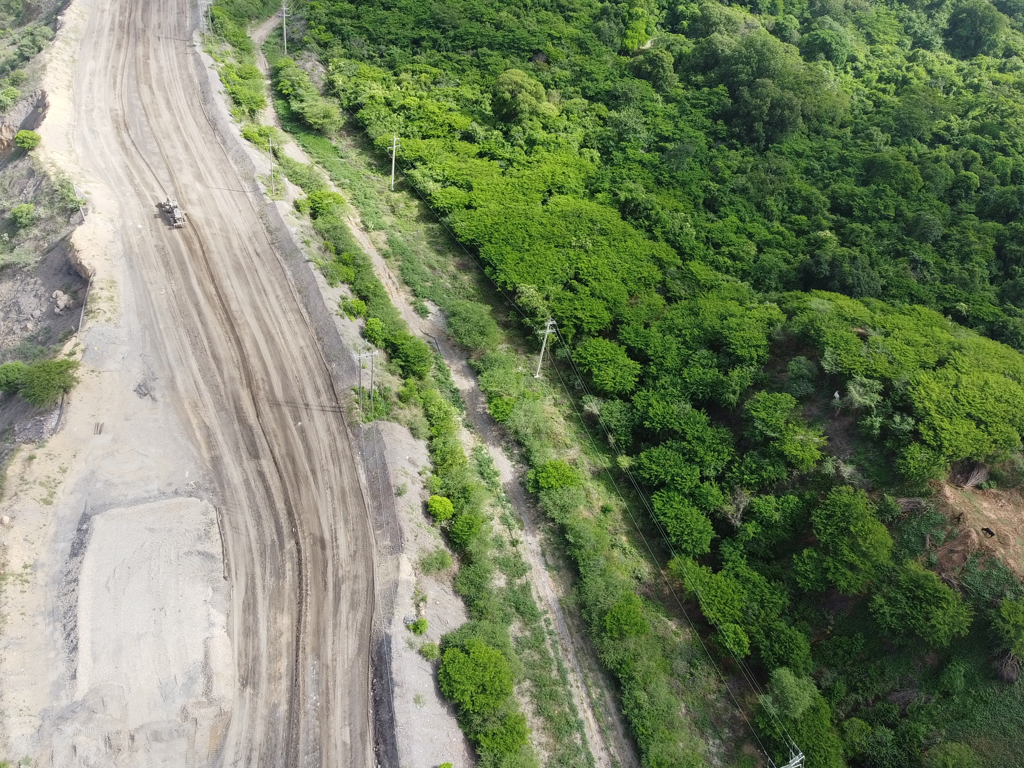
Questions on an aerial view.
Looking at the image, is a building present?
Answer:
No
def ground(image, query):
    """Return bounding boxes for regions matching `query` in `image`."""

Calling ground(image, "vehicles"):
[158,192,189,228]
